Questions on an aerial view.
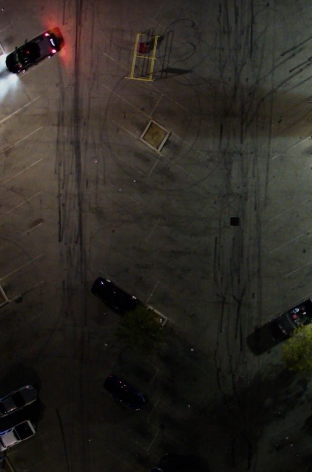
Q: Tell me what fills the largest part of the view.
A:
paved ground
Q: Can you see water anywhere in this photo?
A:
No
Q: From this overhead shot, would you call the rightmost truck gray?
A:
No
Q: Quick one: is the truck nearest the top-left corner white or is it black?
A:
black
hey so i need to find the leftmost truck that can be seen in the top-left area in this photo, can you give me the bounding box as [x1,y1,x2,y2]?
[4,32,59,75]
